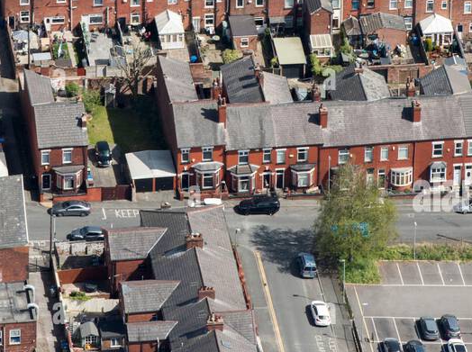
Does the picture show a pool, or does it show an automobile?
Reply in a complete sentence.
I can see an automobile in this picture.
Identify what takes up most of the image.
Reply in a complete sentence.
What you mostly see from above here is buildings.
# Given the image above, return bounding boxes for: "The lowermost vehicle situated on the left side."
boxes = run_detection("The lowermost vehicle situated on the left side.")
[67,225,107,242]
